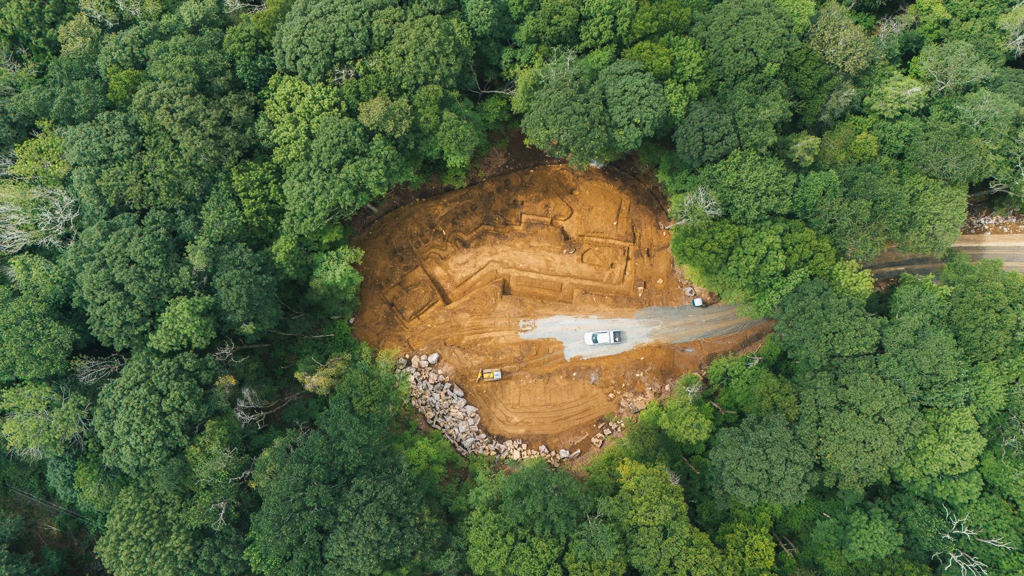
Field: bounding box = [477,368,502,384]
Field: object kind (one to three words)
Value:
work vehicle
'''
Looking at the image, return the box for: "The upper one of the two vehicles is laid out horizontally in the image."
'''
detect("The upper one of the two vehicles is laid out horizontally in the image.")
[584,329,623,345]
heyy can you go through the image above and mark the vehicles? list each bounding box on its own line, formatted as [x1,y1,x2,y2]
[584,329,623,345]
[477,368,502,384]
